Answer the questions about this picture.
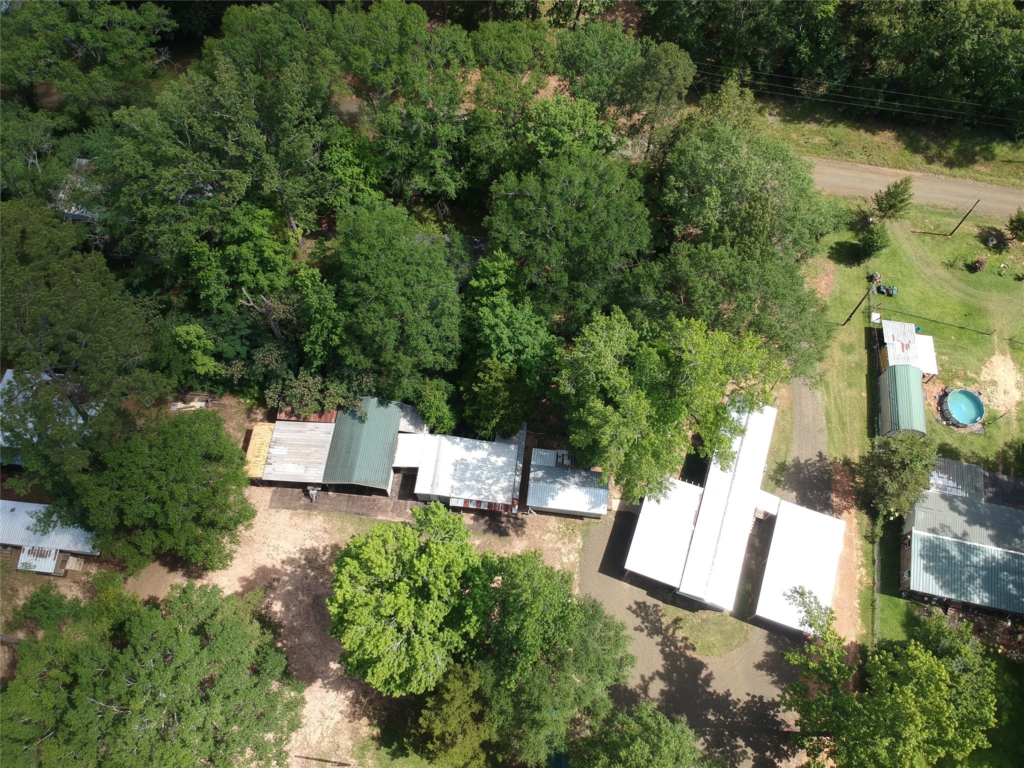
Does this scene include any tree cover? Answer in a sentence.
Yes, tree cover can be seen from above here.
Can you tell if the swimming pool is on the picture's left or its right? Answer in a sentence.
The swimming pool appears in the right half of the scene.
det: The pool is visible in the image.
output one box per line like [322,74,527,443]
[942,391,986,429]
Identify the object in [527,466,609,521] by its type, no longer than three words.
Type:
house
